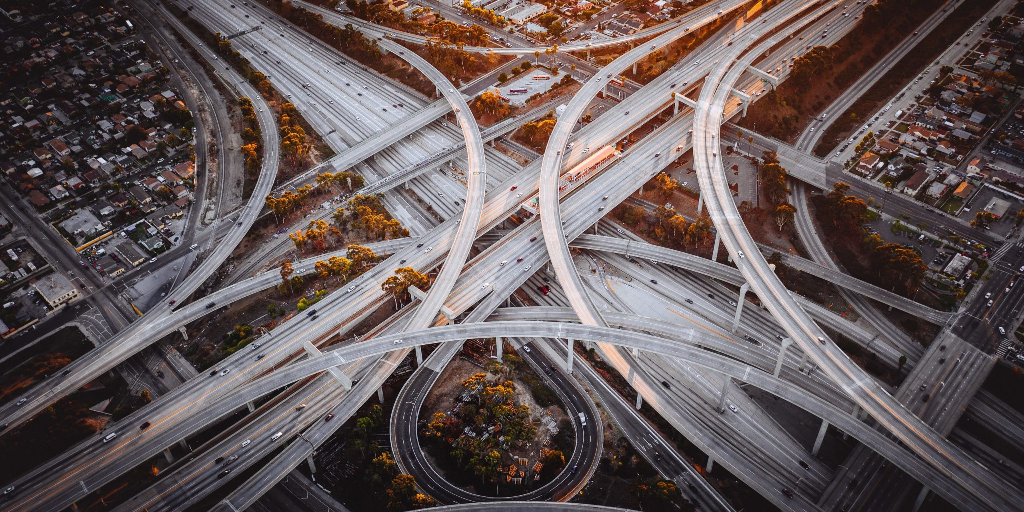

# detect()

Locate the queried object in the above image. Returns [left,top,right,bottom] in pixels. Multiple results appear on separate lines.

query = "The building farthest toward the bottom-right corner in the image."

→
[939,250,977,290]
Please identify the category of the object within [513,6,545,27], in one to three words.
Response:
house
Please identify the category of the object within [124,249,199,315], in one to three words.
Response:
building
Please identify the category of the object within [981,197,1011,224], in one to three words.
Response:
building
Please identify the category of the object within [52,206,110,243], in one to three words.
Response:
house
